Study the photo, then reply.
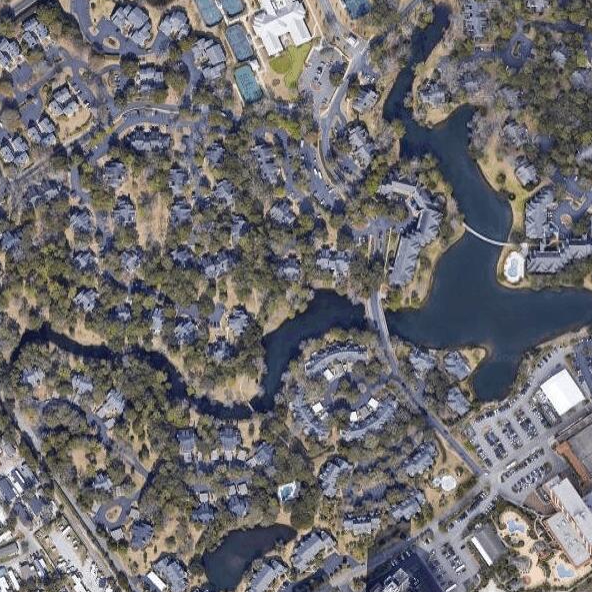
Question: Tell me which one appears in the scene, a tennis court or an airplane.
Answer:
tennis court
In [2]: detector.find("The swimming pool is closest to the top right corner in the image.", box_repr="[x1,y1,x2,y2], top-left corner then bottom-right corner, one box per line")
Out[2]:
[504,252,525,282]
